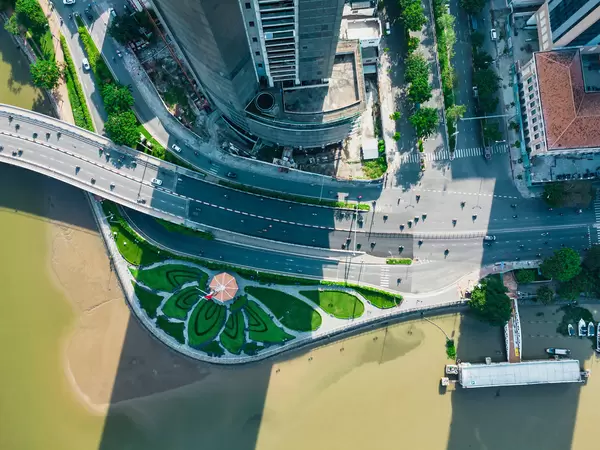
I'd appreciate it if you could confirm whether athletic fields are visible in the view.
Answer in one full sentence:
No, I find no athletic field anywhere in the image.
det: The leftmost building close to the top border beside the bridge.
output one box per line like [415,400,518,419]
[156,0,366,158]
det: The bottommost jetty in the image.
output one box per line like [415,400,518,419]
[454,355,581,388]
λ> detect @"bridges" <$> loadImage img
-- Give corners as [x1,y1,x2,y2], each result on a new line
[0,104,340,253]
